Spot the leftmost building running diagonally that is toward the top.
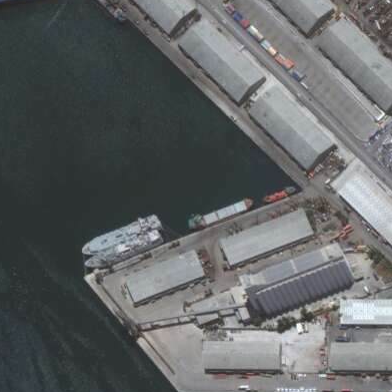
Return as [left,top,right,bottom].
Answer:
[177,19,268,108]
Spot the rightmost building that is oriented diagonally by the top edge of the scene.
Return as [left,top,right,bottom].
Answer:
[313,18,392,115]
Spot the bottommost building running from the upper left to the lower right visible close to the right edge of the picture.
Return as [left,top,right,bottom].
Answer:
[329,158,392,245]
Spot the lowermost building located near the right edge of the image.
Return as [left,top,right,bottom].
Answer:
[327,341,392,373]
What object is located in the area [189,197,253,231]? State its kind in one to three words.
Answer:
ship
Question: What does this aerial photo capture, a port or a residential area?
port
